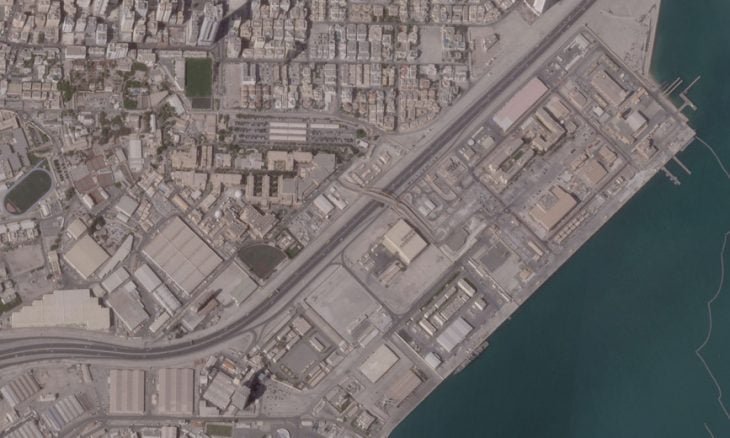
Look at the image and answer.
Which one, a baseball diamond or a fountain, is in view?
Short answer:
baseball diamond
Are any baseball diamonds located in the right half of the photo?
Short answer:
No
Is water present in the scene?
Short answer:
Yes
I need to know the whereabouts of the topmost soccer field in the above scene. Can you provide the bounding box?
[185,57,212,97]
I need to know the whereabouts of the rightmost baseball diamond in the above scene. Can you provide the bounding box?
[237,241,289,280]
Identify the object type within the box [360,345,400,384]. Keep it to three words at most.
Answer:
building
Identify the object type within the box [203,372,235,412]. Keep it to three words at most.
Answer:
building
